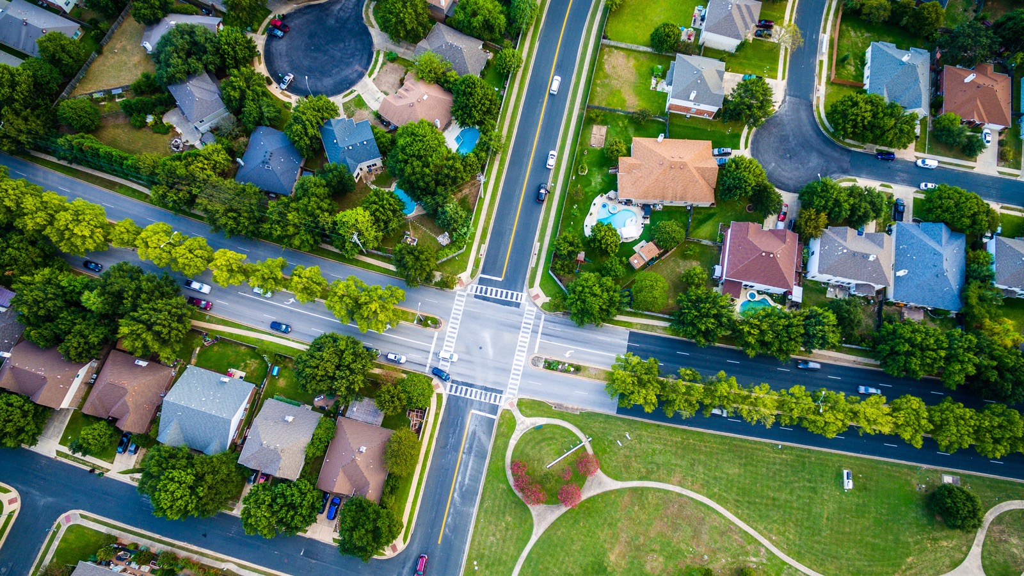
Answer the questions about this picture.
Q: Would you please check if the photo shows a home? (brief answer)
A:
Yes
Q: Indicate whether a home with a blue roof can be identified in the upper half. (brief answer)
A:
Yes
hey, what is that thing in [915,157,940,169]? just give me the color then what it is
white vehicle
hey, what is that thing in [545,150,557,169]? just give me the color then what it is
white vehicle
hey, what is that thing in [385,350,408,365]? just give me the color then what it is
white car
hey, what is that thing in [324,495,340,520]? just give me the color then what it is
blue car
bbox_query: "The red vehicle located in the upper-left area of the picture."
[268,17,291,32]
